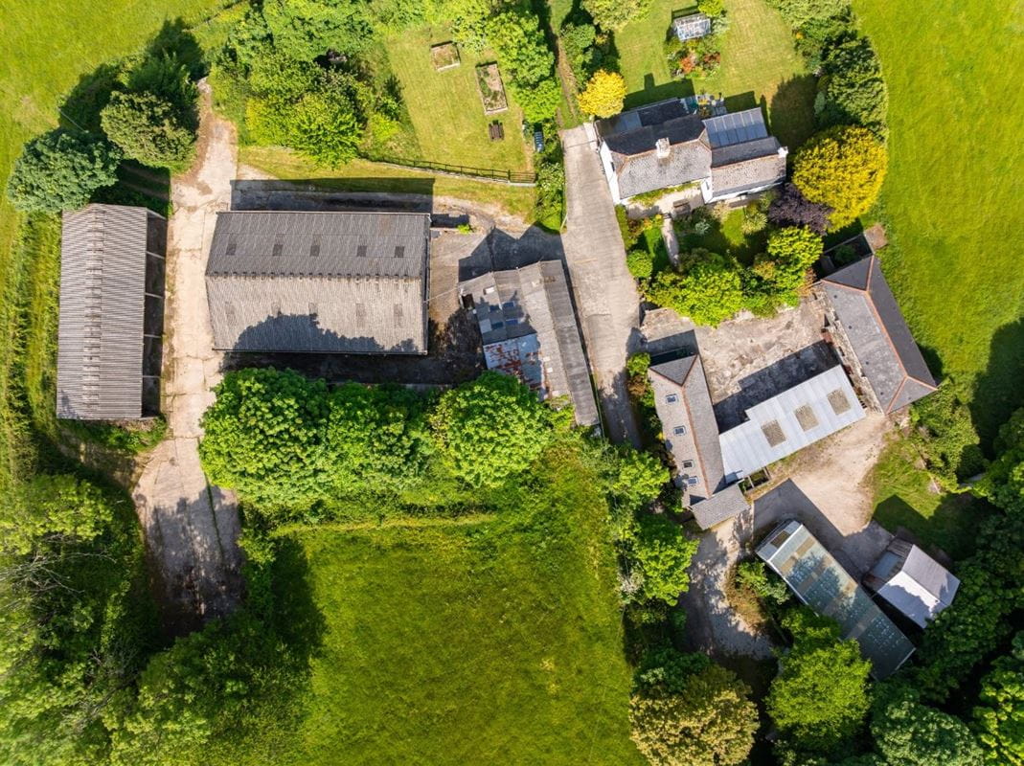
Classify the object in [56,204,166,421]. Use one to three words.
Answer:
barn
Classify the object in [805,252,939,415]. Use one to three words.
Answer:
barn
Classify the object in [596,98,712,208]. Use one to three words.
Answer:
house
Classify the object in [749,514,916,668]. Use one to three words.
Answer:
shed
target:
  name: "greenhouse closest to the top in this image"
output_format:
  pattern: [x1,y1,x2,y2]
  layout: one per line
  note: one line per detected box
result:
[671,14,711,47]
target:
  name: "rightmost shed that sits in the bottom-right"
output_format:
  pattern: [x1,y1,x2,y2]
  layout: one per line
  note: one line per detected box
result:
[856,533,958,629]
